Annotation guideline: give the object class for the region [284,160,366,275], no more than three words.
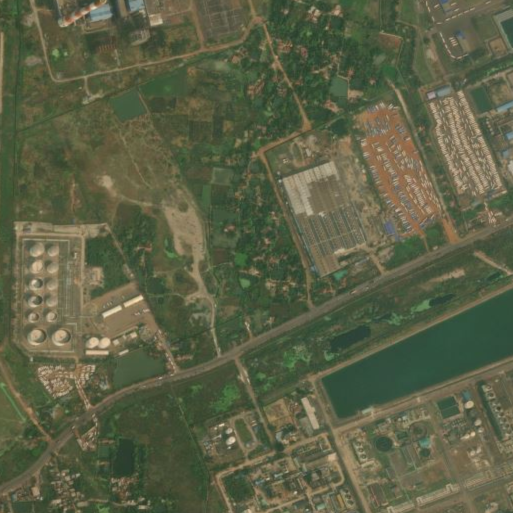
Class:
building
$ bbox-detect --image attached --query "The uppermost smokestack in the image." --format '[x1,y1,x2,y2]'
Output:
[57,0,93,29]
